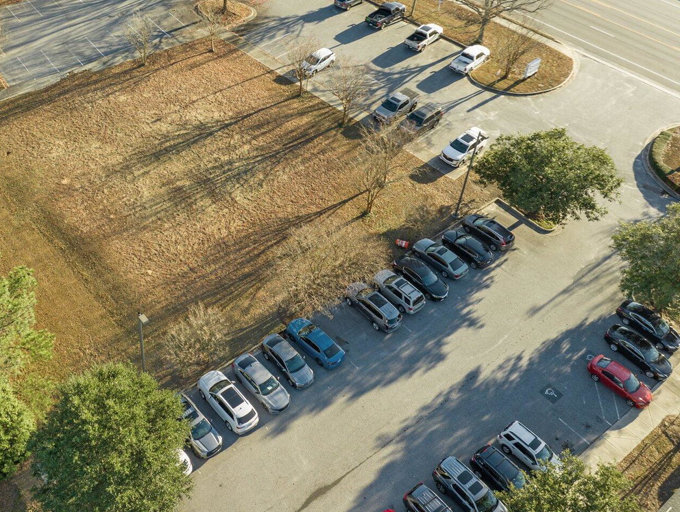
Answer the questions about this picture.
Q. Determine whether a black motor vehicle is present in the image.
Yes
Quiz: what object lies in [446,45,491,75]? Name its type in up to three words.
truck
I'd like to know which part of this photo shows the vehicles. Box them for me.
[612,300,680,356]
[364,2,406,28]
[391,253,450,303]
[370,268,430,317]
[434,456,506,512]
[199,373,260,436]
[440,229,497,272]
[602,323,676,382]
[371,88,422,125]
[401,483,453,512]
[400,101,443,135]
[459,214,517,256]
[582,350,657,413]
[258,331,319,392]
[171,394,231,463]
[402,24,446,51]
[412,238,471,283]
[462,433,530,502]
[344,284,404,336]
[443,130,487,166]
[286,317,346,374]
[446,45,491,75]
[299,49,336,76]
[332,0,365,10]
[493,411,567,478]
[232,351,292,415]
